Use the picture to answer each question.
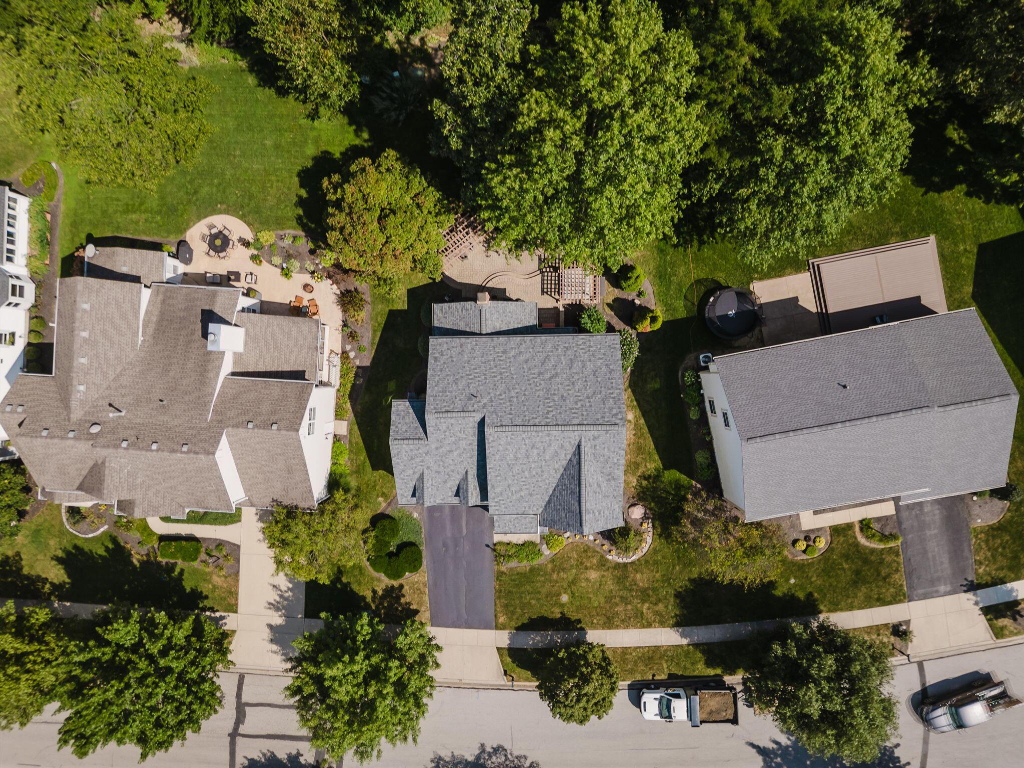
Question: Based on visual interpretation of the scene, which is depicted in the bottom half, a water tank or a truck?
truck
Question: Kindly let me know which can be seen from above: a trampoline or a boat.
trampoline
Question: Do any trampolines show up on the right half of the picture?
Yes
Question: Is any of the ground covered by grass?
Yes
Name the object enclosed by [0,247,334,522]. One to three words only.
house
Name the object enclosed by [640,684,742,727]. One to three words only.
truck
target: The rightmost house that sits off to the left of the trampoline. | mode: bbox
[391,289,627,534]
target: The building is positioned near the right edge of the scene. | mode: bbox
[693,307,1018,522]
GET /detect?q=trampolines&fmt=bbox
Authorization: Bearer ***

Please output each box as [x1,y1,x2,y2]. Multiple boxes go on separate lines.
[704,284,763,340]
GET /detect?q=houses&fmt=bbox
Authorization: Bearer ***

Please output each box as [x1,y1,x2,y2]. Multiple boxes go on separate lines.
[391,289,627,534]
[693,307,1018,522]
[0,247,334,522]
